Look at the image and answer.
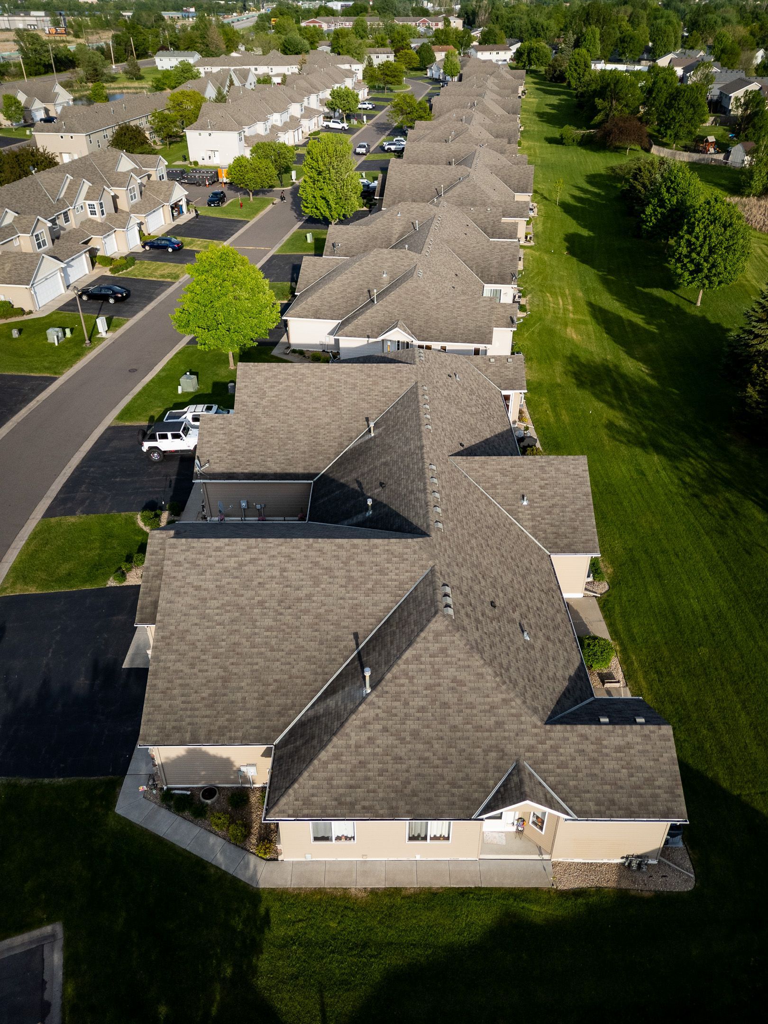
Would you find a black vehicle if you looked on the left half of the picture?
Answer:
Yes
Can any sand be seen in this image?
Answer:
No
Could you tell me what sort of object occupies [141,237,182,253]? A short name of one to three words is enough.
car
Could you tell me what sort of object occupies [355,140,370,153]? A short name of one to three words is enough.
vehicle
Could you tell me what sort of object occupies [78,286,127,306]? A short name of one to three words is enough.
car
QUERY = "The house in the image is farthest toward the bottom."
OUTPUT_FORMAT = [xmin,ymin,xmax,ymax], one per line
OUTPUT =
[134,342,694,881]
